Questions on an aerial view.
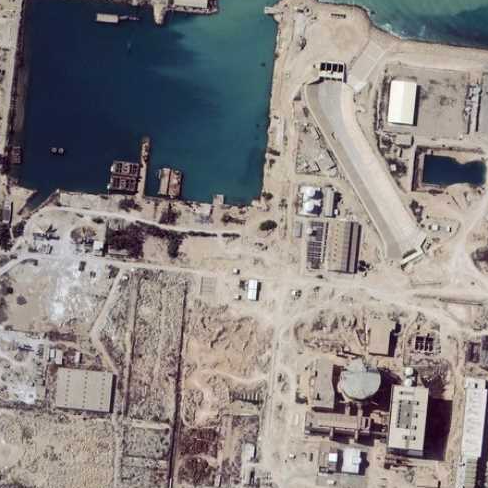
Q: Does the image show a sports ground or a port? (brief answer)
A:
port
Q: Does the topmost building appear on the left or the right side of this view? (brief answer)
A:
right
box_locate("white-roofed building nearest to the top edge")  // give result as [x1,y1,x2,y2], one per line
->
[388,81,418,126]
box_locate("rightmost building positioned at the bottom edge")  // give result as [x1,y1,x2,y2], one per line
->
[455,378,487,488]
